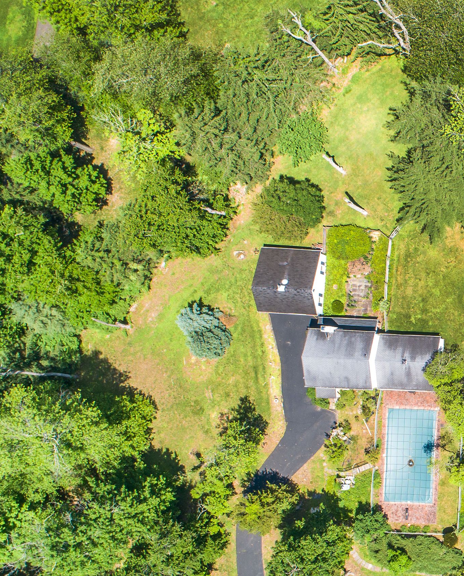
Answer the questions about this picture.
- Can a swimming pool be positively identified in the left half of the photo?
No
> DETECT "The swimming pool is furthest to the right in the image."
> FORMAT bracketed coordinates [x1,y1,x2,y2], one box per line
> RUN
[382,404,440,509]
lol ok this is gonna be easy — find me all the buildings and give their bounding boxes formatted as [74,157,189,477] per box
[302,326,441,403]
[252,247,327,316]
